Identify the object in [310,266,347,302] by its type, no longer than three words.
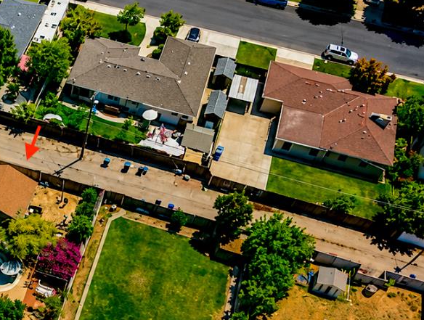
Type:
shed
